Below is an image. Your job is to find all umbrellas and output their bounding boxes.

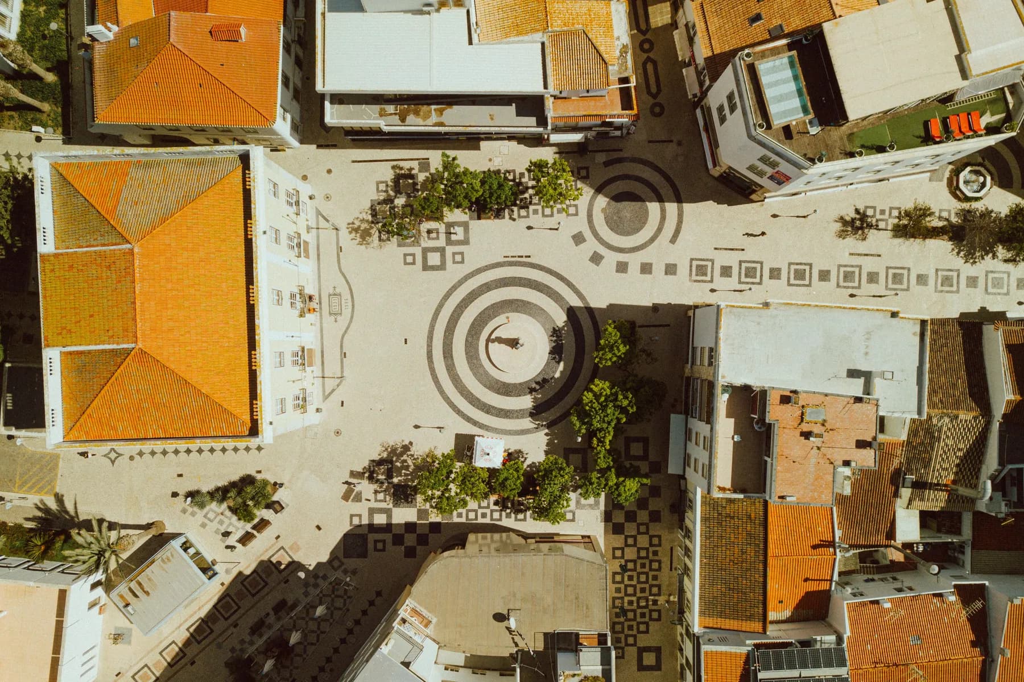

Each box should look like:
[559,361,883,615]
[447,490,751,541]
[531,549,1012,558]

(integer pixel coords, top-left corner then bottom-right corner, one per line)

[316,601,329,618]
[291,626,306,644]
[263,655,279,674]
[473,436,505,468]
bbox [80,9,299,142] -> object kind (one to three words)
house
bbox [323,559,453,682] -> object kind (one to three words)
building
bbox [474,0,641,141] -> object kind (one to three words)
house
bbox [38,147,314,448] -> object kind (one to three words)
building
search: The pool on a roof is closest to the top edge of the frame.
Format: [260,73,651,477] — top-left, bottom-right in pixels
[753,51,812,131]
